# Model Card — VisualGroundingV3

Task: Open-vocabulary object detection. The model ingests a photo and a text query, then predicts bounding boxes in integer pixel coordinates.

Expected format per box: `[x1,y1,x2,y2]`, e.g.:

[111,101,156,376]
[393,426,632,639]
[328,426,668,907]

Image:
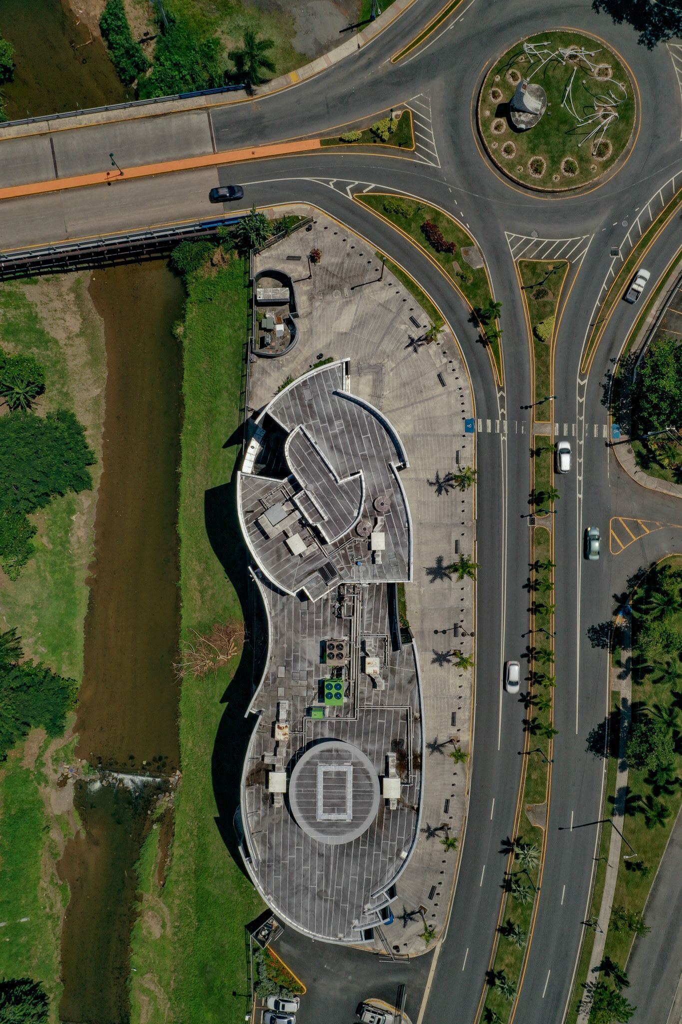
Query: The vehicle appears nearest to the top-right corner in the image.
[622,268,650,308]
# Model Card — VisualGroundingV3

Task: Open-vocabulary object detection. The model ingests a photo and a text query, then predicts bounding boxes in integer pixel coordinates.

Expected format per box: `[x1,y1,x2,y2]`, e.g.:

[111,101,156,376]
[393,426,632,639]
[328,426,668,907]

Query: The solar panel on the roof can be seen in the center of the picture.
[317,562,338,582]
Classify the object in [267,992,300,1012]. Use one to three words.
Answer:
car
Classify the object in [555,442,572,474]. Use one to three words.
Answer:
car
